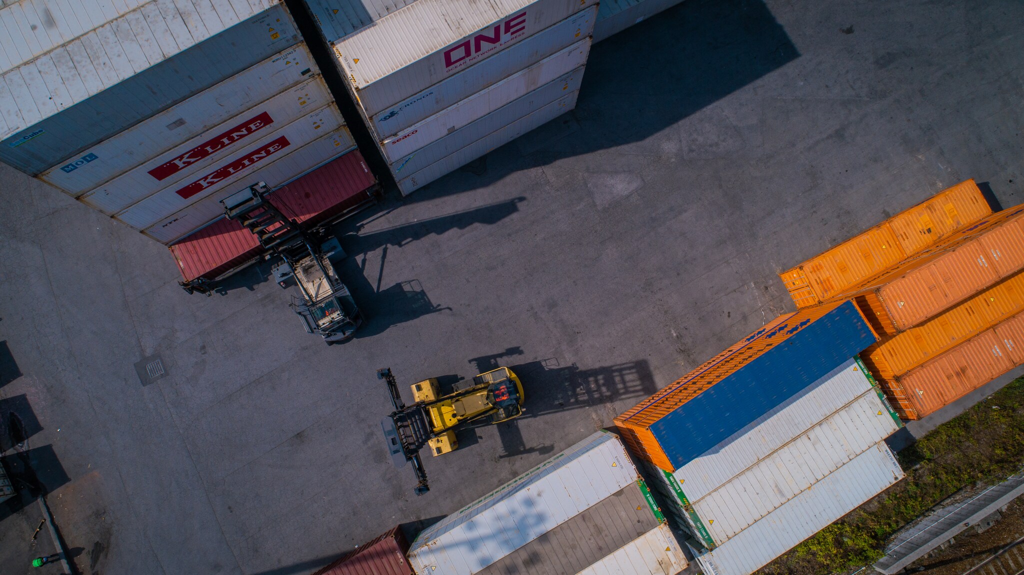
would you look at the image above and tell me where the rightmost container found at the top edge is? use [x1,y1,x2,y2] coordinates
[588,0,684,49]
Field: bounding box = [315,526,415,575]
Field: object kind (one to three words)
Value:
shipping container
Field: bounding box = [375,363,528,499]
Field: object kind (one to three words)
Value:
truck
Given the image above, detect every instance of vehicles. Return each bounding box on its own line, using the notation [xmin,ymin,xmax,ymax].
[375,363,528,499]
[192,179,390,347]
